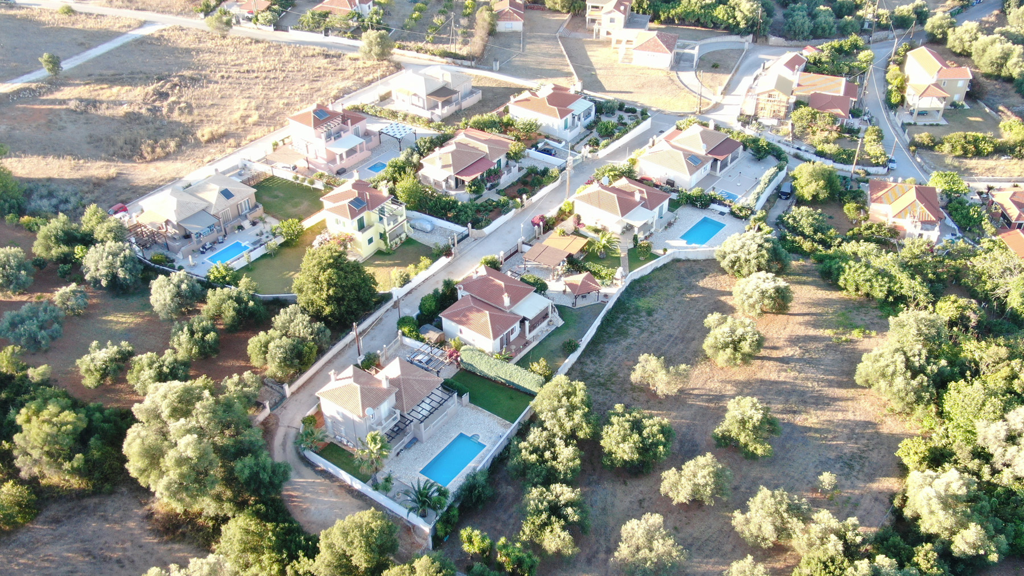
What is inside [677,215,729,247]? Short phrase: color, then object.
blue swimming pool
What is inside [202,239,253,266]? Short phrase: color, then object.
blue swimming pool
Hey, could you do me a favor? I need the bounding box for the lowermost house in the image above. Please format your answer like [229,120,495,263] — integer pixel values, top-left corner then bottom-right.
[315,355,458,456]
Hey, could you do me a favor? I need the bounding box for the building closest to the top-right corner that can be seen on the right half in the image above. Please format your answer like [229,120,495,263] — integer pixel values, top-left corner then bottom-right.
[901,41,972,120]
